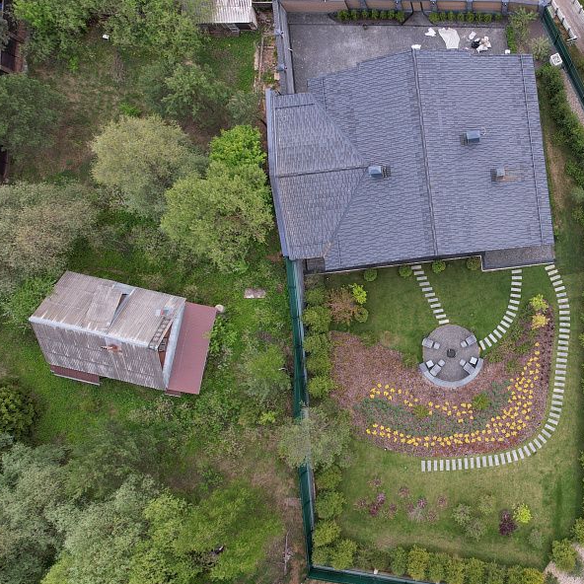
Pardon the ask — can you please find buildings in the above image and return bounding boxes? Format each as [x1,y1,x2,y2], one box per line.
[199,0,262,33]
[28,272,218,402]
[265,43,555,276]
